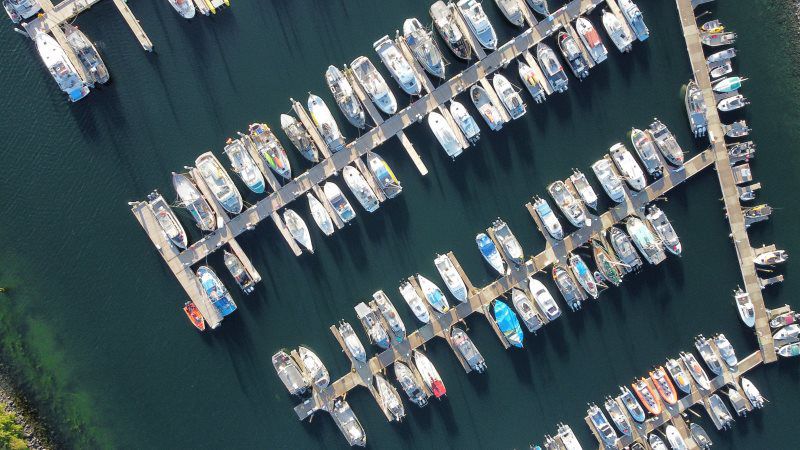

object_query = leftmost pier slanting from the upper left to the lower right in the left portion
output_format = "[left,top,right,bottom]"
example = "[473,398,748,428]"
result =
[128,199,225,330]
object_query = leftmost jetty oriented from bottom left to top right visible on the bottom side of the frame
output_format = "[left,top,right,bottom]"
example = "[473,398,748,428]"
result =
[291,389,329,421]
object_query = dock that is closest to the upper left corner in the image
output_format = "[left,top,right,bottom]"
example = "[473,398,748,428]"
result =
[14,0,152,83]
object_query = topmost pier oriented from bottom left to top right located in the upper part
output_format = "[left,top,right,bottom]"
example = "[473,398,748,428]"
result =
[180,0,636,279]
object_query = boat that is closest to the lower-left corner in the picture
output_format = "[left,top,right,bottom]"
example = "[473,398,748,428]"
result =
[183,298,205,330]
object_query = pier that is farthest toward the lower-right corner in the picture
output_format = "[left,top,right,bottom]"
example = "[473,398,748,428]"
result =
[584,339,770,450]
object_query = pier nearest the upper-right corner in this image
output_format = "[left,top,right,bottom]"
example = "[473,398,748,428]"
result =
[676,0,800,362]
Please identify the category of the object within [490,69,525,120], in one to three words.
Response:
boat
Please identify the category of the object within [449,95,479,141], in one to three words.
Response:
boat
